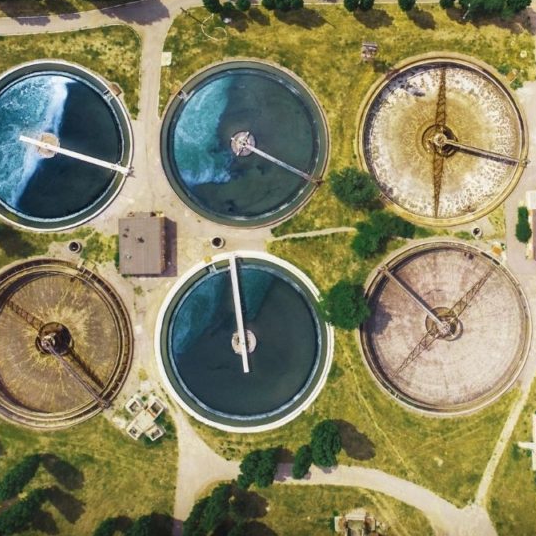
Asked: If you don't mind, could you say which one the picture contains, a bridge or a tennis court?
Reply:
bridge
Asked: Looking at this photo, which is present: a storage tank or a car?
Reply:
storage tank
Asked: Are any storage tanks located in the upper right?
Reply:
Yes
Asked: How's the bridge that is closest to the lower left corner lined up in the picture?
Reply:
on a diagonal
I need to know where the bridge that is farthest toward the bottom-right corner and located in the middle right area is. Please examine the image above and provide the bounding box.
[379,264,447,331]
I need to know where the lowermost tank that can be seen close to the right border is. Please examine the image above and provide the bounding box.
[357,240,534,417]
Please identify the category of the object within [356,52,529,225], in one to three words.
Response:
storage tank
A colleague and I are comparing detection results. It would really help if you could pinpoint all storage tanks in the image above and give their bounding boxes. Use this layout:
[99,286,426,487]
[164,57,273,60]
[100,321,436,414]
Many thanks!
[160,59,330,229]
[357,240,534,417]
[0,60,135,231]
[0,257,135,429]
[356,52,529,225]
[154,251,335,432]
